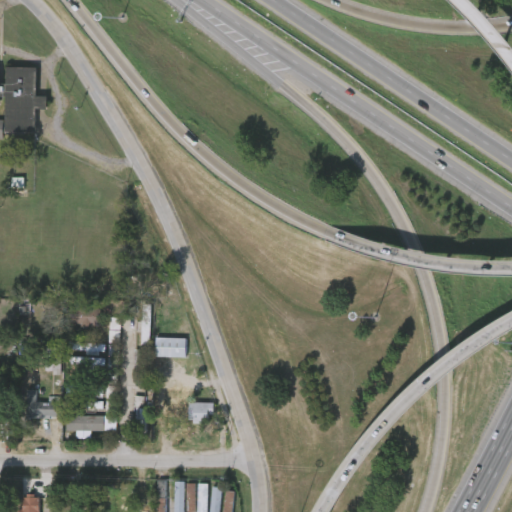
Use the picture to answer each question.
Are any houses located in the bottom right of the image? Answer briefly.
No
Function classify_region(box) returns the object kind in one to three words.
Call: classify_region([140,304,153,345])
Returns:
house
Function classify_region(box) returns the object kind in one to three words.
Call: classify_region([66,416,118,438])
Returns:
house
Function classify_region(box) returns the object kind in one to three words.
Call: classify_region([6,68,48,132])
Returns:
building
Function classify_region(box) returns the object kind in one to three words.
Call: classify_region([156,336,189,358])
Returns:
barn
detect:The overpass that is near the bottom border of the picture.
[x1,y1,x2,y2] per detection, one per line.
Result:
[312,311,512,512]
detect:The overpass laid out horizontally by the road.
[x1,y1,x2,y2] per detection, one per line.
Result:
[328,228,512,276]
